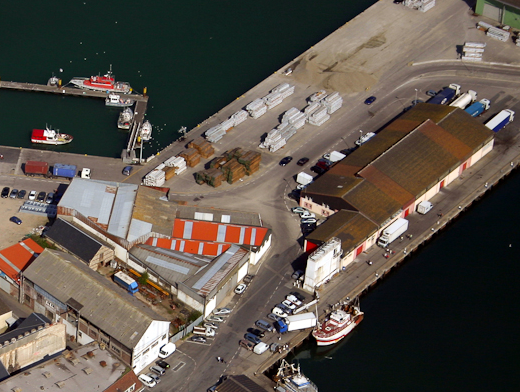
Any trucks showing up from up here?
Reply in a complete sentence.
Yes, I can see a truck in this picture.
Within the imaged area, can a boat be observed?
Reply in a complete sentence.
Yes, there's a boat down there.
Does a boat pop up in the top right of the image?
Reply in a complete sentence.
No, no boat is visible in the top right of the image.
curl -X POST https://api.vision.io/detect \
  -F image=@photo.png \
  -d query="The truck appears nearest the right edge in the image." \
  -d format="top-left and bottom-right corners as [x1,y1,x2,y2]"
[480,106,516,133]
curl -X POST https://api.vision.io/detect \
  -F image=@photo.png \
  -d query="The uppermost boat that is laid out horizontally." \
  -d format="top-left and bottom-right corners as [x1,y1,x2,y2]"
[68,68,133,95]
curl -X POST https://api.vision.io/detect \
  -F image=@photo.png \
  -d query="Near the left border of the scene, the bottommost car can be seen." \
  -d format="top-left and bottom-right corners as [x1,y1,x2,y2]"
[8,214,24,226]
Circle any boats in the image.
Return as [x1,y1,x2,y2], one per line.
[273,364,320,392]
[105,94,132,107]
[142,119,151,143]
[49,75,57,88]
[68,68,133,95]
[119,108,132,130]
[31,126,75,145]
[311,305,369,349]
